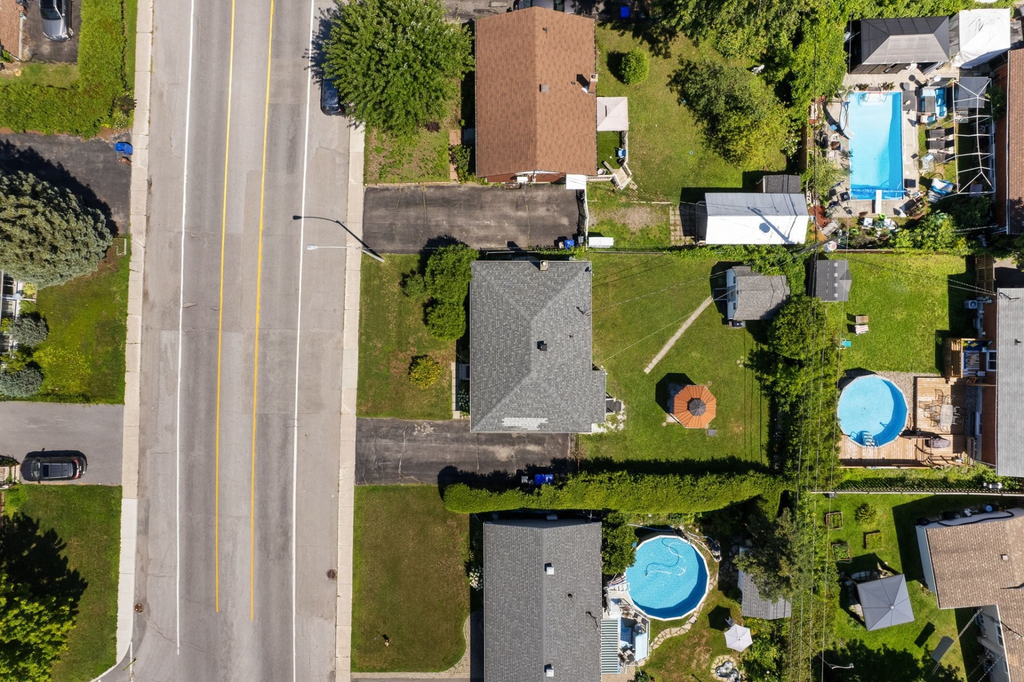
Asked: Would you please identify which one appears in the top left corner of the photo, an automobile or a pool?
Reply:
automobile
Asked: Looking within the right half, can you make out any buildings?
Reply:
Yes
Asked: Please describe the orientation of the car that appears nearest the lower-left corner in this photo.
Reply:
from side to side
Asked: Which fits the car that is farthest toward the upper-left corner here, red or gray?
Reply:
gray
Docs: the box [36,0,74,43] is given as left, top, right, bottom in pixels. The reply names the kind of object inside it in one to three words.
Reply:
car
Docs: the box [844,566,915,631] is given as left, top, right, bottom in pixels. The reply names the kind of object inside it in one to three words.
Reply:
gazebo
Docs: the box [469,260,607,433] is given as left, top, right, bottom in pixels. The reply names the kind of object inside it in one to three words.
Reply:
house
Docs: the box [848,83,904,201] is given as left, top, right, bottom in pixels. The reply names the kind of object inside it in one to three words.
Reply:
swimming pool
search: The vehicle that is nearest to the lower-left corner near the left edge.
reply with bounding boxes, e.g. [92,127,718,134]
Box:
[21,453,89,485]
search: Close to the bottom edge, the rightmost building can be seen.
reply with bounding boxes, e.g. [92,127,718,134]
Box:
[915,506,1024,682]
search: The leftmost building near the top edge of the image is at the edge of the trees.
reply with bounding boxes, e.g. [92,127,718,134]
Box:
[474,9,601,180]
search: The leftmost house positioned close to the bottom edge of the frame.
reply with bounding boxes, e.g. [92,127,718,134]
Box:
[483,517,602,682]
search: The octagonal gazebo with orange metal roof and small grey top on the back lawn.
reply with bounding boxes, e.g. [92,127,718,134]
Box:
[667,385,716,429]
